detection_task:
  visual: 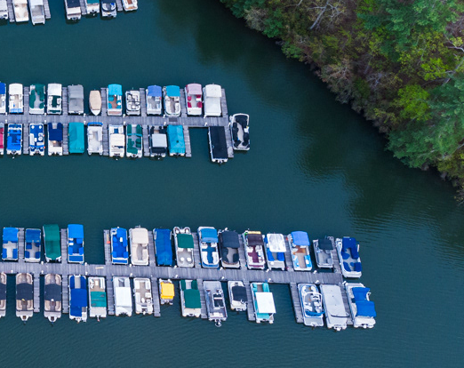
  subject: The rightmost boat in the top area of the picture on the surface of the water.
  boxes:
[232,113,252,150]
